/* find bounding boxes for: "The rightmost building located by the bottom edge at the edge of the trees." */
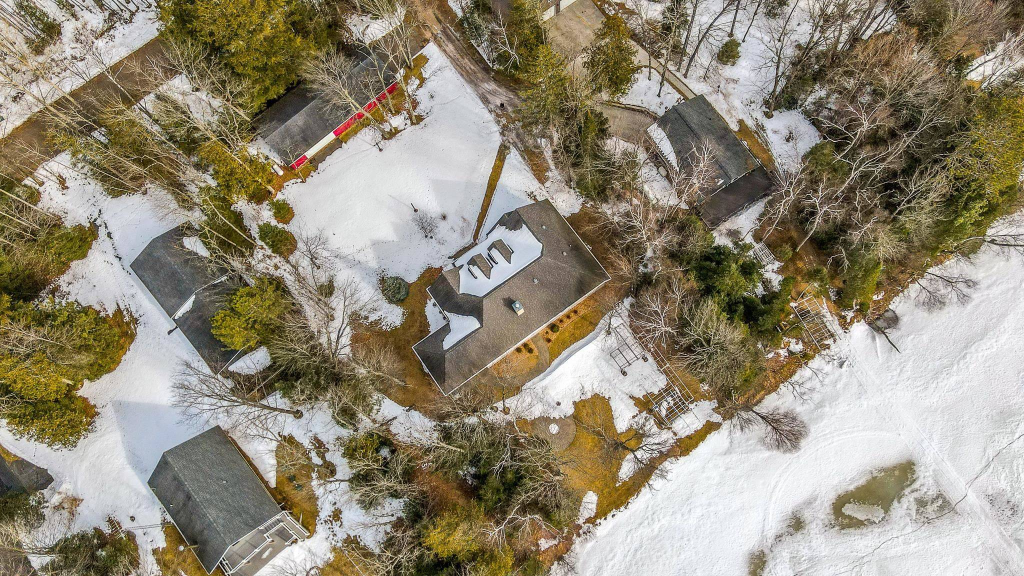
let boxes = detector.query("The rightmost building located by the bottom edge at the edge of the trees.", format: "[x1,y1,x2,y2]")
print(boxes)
[147,425,315,576]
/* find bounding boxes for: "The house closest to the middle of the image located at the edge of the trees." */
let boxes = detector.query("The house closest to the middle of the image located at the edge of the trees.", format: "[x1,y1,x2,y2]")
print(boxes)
[412,198,611,396]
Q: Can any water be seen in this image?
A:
Yes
